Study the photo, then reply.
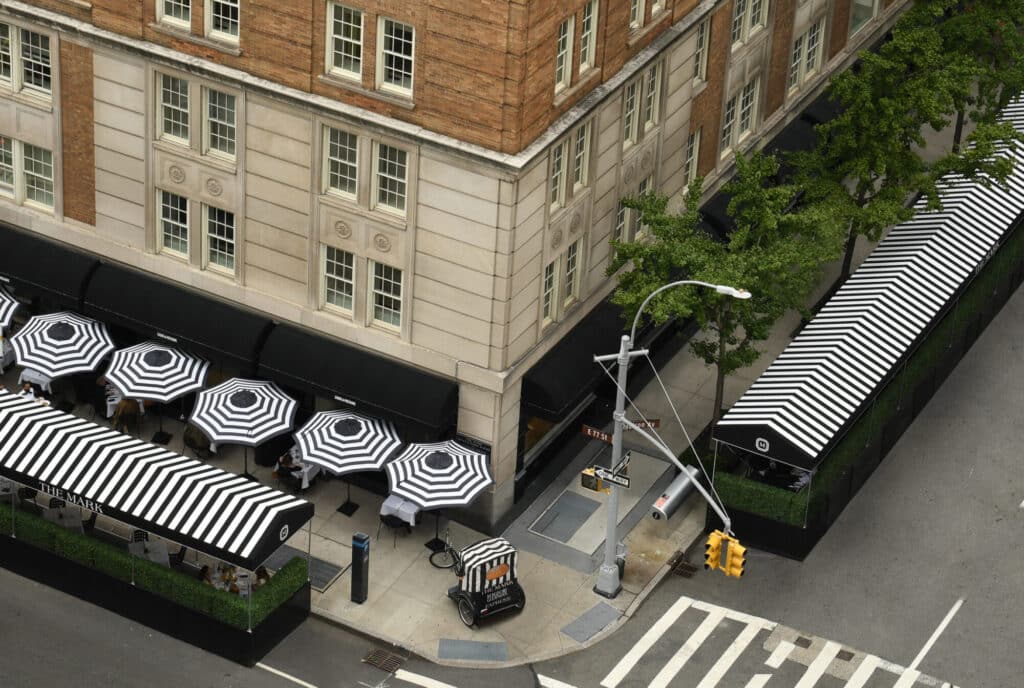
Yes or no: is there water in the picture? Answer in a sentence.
No, there is no water in the image.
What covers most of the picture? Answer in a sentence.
For the most part, this view shows buildings.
